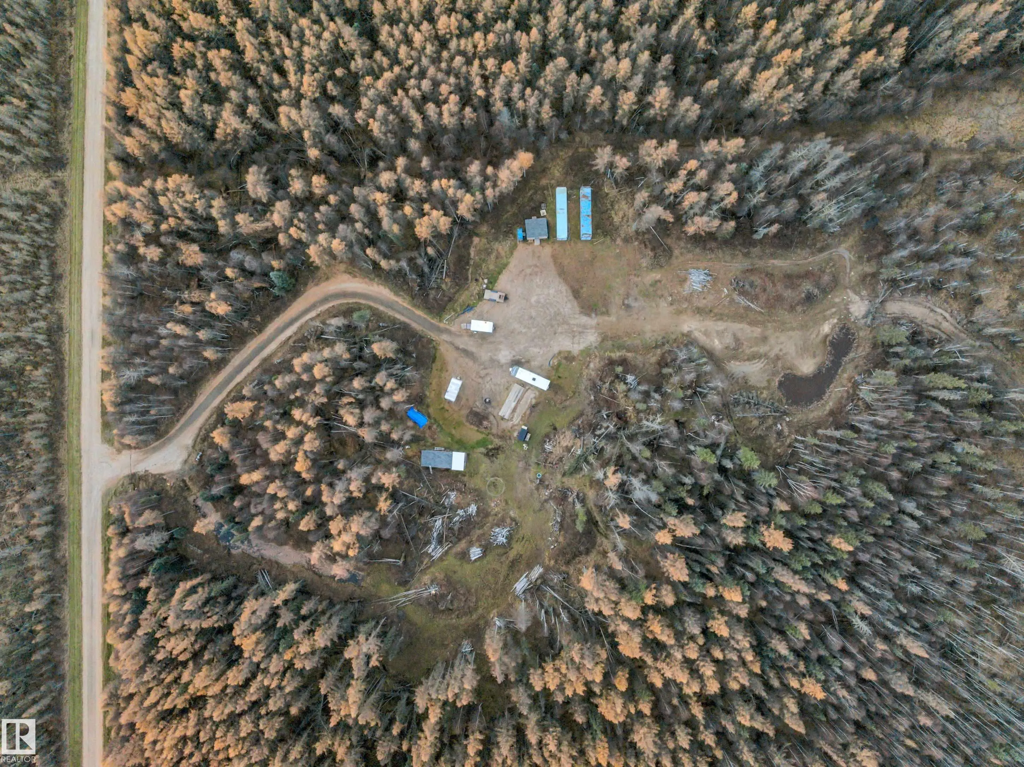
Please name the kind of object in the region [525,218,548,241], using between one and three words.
shed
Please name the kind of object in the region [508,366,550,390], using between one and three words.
camper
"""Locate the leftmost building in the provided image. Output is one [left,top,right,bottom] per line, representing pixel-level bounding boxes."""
[421,450,469,470]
